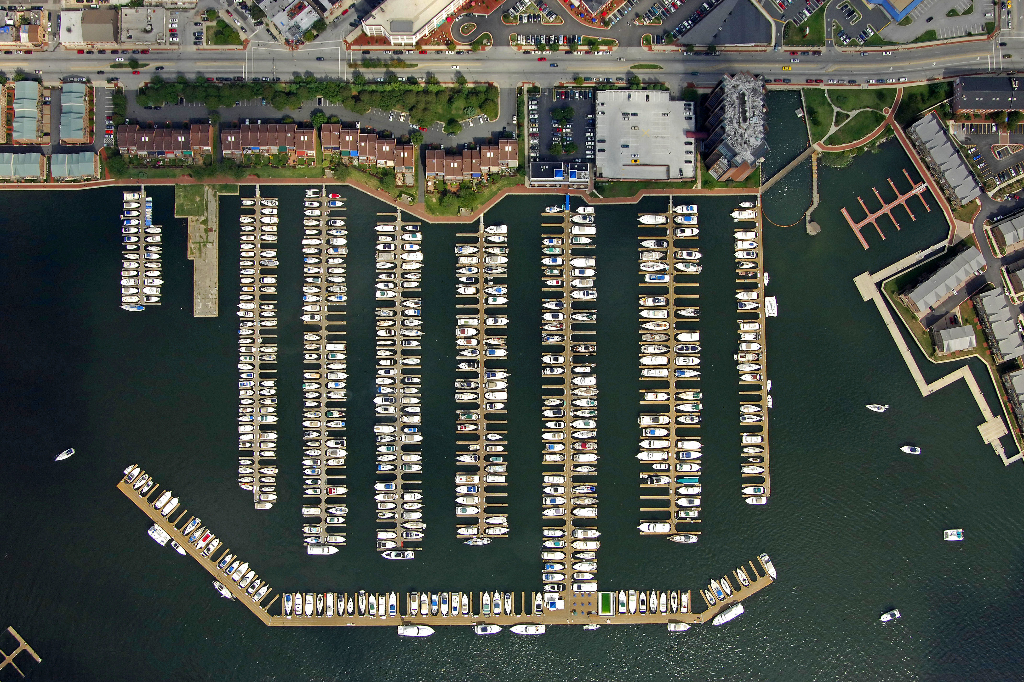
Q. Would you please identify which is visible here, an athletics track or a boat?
boat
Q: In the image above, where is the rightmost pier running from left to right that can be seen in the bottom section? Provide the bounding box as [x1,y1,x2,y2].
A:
[117,465,773,626]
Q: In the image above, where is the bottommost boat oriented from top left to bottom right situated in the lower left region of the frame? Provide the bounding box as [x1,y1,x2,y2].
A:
[211,580,235,602]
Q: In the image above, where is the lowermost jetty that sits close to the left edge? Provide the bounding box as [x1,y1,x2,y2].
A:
[0,627,42,678]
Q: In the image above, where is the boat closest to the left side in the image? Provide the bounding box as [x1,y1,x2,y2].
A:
[52,448,76,461]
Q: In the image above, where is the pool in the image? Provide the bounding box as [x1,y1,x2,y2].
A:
[597,592,615,616]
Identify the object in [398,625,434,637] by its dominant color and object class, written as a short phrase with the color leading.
white boat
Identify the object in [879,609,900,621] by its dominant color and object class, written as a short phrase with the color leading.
white boat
